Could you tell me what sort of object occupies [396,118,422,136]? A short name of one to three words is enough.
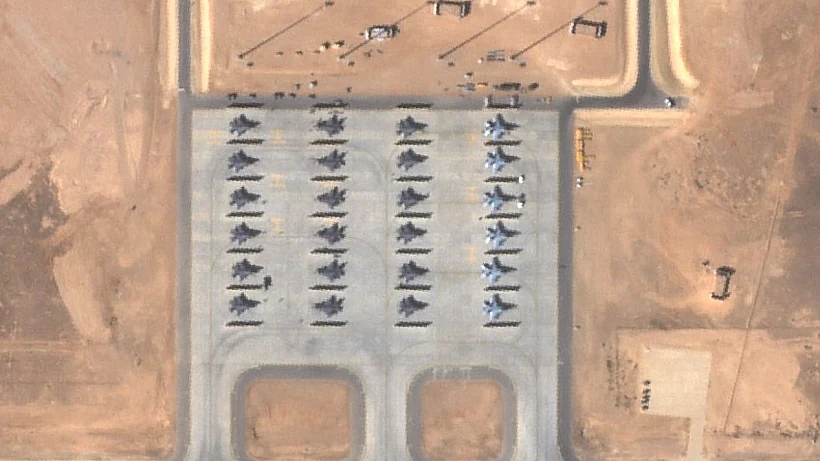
airplane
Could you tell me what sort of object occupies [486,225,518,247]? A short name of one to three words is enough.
airplane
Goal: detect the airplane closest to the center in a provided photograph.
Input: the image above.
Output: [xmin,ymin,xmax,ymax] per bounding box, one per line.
[397,225,423,243]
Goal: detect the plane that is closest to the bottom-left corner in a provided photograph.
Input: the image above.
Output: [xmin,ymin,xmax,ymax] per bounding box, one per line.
[229,298,255,315]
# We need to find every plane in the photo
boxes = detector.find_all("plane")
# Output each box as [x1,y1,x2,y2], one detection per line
[317,190,343,208]
[398,190,423,209]
[317,153,342,171]
[397,153,423,170]
[396,118,422,136]
[229,154,255,172]
[229,298,255,315]
[316,118,341,135]
[399,263,424,281]
[317,226,343,244]
[317,263,343,280]
[231,190,255,208]
[485,150,518,171]
[484,117,517,139]
[230,118,255,135]
[231,226,257,245]
[486,225,518,247]
[397,225,423,243]
[399,299,424,316]
[232,262,257,280]
[316,299,341,316]
[481,263,514,284]
[483,298,516,319]
[484,190,517,211]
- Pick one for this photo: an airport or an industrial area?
airport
